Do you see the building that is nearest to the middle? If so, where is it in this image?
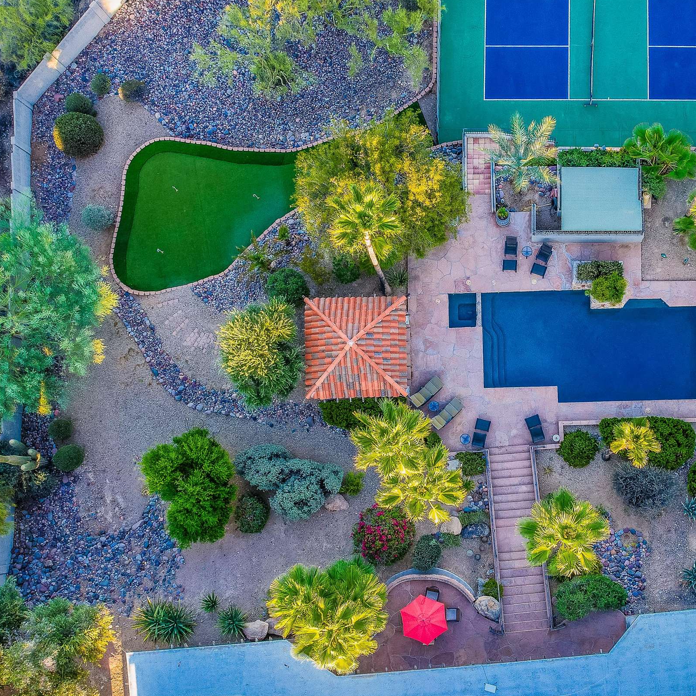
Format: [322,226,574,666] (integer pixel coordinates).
[301,294,413,404]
